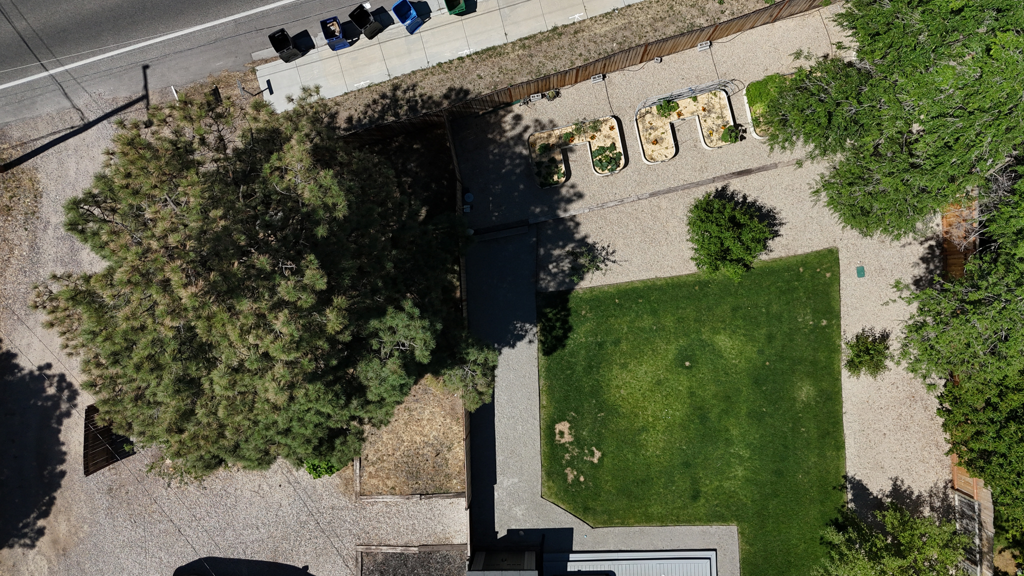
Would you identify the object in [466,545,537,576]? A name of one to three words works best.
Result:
shed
